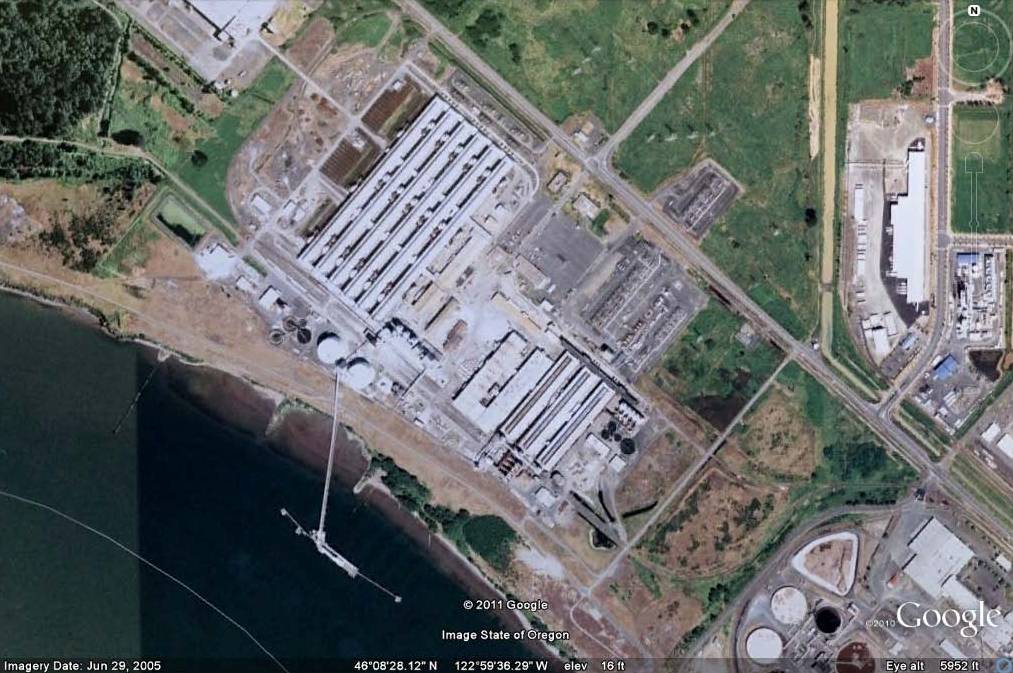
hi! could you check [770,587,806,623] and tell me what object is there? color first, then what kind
white storage tank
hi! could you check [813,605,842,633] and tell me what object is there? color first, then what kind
black storage tank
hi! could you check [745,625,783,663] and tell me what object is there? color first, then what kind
white storage tank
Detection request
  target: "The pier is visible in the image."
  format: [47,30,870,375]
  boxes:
[284,371,397,598]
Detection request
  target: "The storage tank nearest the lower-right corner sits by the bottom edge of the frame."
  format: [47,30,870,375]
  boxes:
[835,640,875,673]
